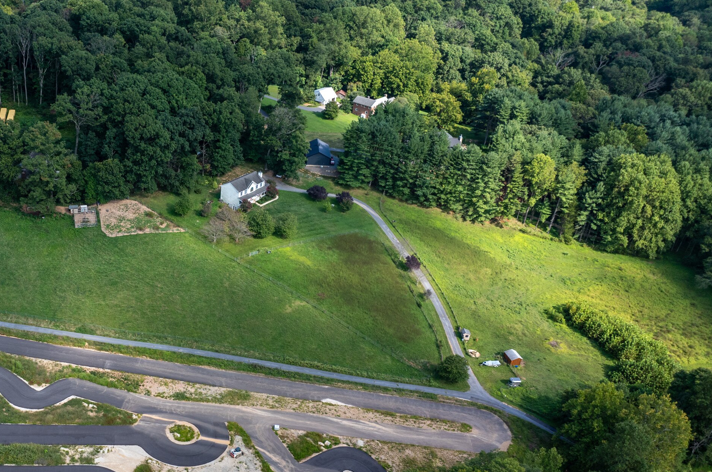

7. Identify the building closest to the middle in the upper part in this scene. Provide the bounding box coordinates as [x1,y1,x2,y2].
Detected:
[304,136,331,167]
